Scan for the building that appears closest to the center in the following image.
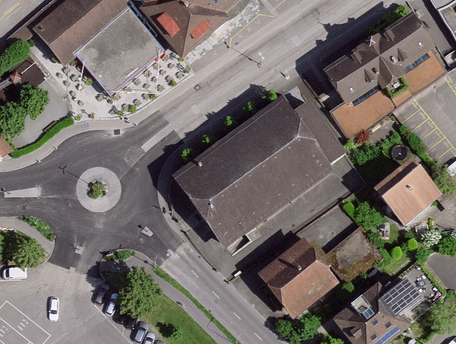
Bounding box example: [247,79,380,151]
[172,95,334,251]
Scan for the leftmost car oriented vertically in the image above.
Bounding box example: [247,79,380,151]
[48,296,60,322]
